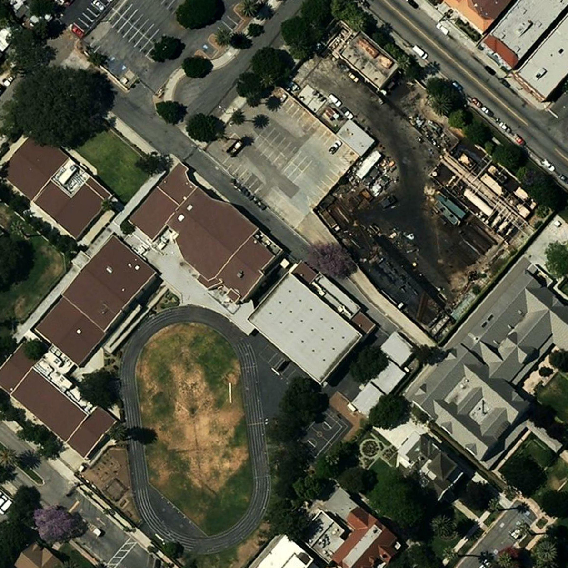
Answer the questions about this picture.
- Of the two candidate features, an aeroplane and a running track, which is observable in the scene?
running track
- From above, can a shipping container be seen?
Yes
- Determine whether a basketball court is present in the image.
Yes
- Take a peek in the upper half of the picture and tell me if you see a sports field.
No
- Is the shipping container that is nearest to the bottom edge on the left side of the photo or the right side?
right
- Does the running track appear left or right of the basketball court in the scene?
to the left of it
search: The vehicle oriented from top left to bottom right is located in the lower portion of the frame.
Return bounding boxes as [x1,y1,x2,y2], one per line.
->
[88,524,105,539]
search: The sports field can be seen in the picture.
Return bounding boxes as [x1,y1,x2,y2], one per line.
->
[138,325,251,536]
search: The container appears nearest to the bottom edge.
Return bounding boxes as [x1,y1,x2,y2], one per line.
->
[451,295,476,320]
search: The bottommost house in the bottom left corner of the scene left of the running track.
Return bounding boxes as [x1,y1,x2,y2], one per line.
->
[15,542,64,568]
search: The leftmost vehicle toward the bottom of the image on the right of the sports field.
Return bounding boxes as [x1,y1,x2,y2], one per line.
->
[277,357,290,372]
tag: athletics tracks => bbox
[121,307,269,553]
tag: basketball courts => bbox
[297,408,353,458]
